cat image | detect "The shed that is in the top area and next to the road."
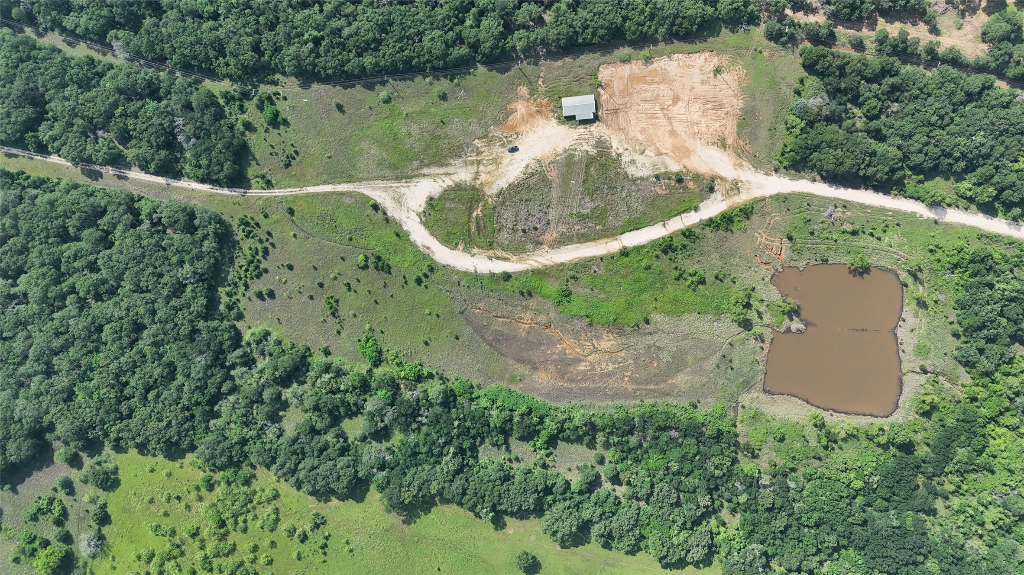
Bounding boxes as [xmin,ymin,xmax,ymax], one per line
[561,95,596,123]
